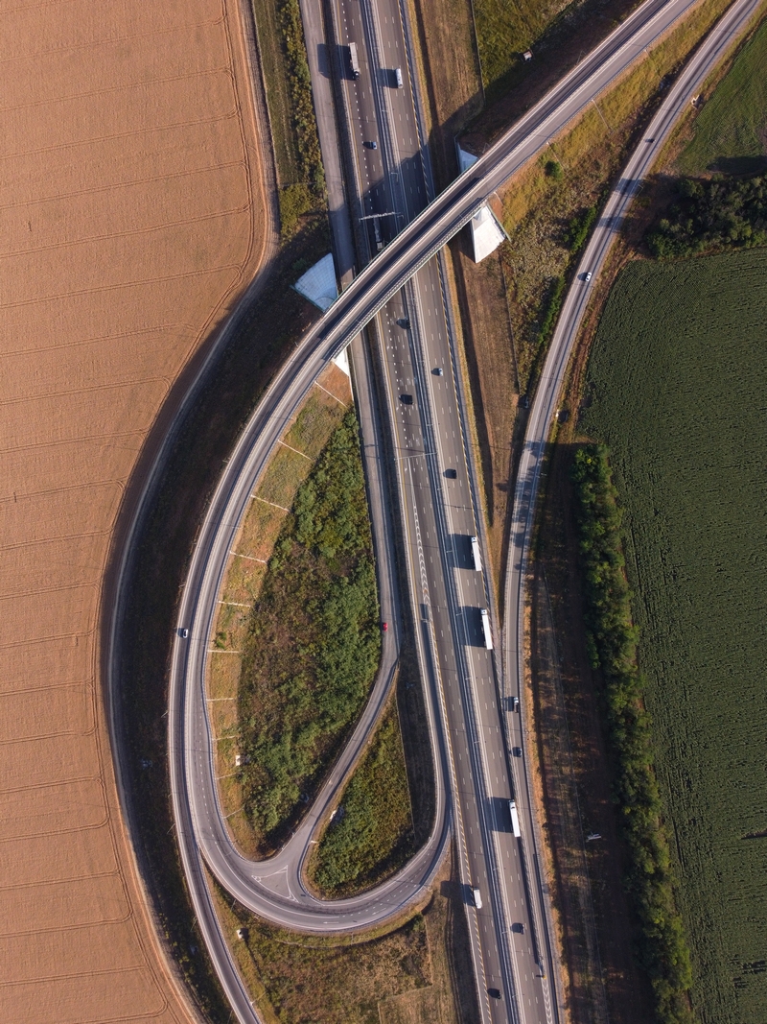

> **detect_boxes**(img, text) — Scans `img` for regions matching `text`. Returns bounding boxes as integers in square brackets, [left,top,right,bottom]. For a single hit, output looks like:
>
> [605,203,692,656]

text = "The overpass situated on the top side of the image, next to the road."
[293,134,523,411]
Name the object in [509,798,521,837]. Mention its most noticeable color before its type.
white vehicle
